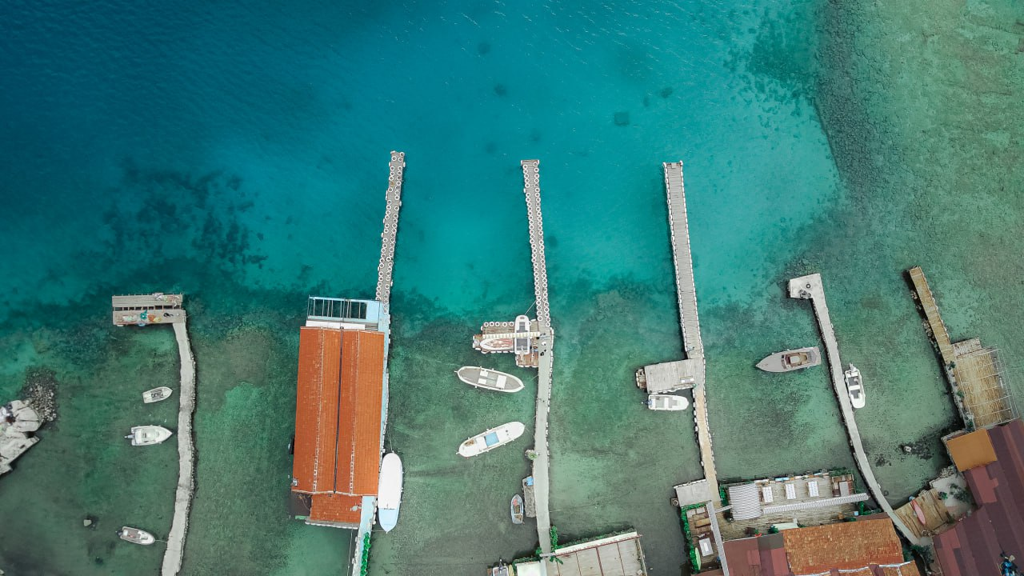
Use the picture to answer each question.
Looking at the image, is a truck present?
No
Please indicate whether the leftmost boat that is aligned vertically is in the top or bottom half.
bottom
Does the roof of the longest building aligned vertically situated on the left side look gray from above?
No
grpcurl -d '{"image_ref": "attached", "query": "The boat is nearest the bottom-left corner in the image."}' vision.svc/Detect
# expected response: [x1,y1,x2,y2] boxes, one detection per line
[116,524,156,545]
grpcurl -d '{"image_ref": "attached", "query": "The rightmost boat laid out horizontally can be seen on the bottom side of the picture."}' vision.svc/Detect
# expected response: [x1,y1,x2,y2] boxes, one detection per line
[755,344,823,371]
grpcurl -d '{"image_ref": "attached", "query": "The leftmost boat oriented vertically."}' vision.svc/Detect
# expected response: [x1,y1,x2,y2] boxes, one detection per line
[376,453,405,533]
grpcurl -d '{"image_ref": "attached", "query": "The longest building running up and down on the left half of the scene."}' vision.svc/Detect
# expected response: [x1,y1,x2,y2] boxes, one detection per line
[291,327,386,528]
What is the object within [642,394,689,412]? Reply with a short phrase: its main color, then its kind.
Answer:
white boat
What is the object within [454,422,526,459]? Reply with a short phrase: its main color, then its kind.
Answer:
white boat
